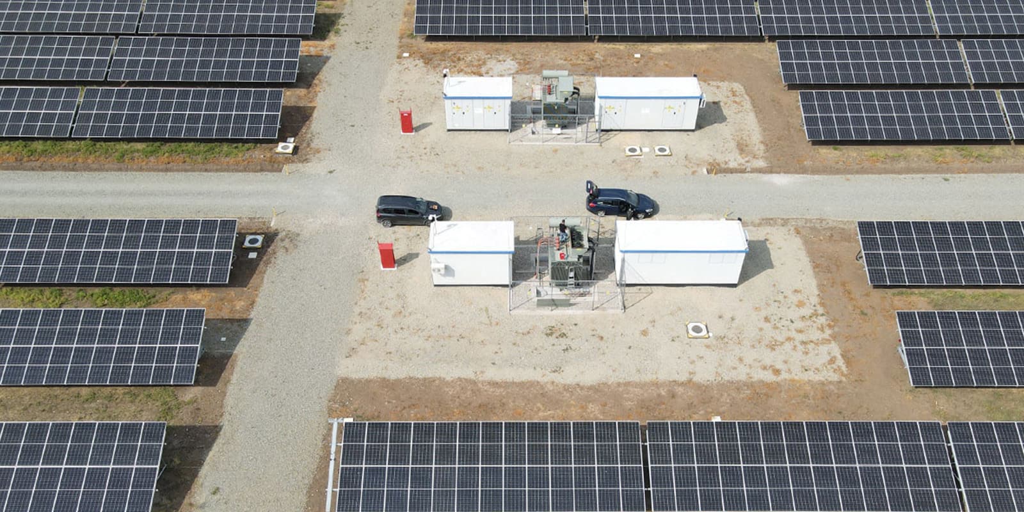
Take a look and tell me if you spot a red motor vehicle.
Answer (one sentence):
No, there's no red motor vehicle here.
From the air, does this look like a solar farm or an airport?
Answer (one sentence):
The area seen from above is a solar farm.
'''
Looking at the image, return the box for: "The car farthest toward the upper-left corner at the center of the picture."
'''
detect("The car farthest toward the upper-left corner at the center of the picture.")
[375,192,444,227]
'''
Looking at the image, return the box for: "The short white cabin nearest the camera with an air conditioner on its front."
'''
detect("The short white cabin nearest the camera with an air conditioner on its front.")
[427,219,516,285]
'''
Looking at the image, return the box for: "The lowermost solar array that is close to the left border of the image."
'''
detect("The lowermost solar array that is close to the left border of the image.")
[0,422,168,512]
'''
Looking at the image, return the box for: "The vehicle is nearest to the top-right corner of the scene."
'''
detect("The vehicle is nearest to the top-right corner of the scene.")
[583,181,655,219]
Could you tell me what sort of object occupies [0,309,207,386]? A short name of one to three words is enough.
solar array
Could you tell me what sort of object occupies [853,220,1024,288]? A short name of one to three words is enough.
solar array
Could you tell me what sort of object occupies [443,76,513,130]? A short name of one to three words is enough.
building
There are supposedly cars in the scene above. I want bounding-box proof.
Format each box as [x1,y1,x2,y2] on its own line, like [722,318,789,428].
[583,181,655,219]
[375,192,444,227]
